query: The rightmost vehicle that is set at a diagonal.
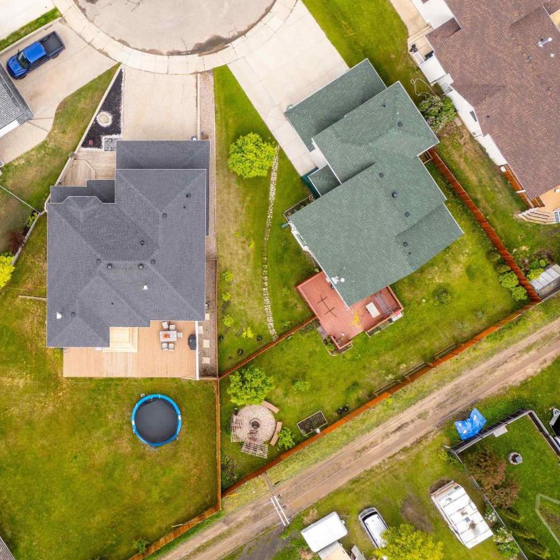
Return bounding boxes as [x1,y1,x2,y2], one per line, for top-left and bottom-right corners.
[419,474,493,548]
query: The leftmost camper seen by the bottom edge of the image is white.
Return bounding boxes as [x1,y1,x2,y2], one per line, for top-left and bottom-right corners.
[296,506,349,551]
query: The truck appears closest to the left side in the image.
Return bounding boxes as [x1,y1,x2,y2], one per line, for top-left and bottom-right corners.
[5,29,69,79]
